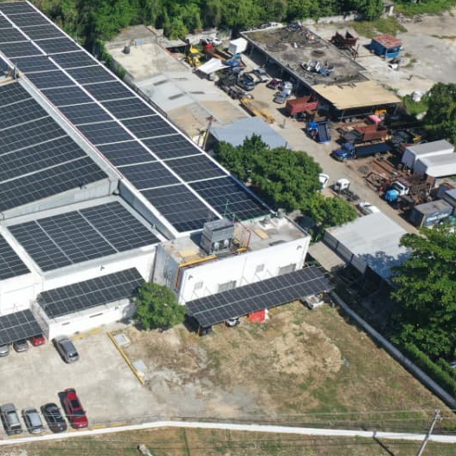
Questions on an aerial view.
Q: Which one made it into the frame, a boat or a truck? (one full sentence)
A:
There is a truck in the scene.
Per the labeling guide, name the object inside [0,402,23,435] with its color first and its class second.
gray car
